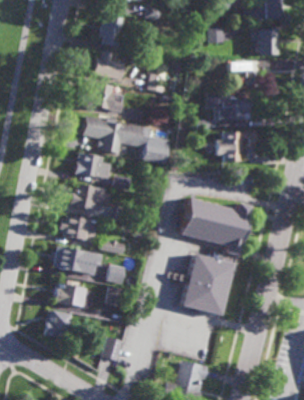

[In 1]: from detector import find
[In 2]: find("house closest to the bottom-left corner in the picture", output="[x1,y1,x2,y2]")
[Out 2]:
[46,310,76,337]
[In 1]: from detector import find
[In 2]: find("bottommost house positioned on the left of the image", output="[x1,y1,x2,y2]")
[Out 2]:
[102,338,125,364]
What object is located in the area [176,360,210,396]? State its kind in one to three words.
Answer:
house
